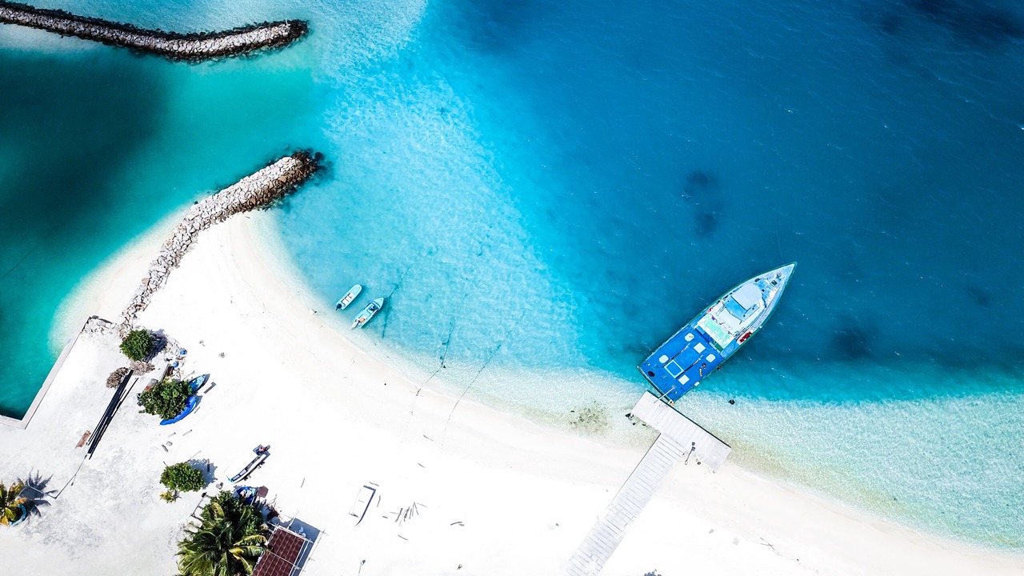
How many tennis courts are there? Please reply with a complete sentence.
The photo contains no tennis courts.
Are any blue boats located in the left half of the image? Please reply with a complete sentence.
Yes, a blue boat is visible in the left half of the image.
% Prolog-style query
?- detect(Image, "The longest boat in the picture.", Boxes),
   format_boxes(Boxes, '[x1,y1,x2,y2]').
[637,262,798,406]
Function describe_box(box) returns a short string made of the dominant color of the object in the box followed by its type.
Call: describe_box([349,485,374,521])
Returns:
white boat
